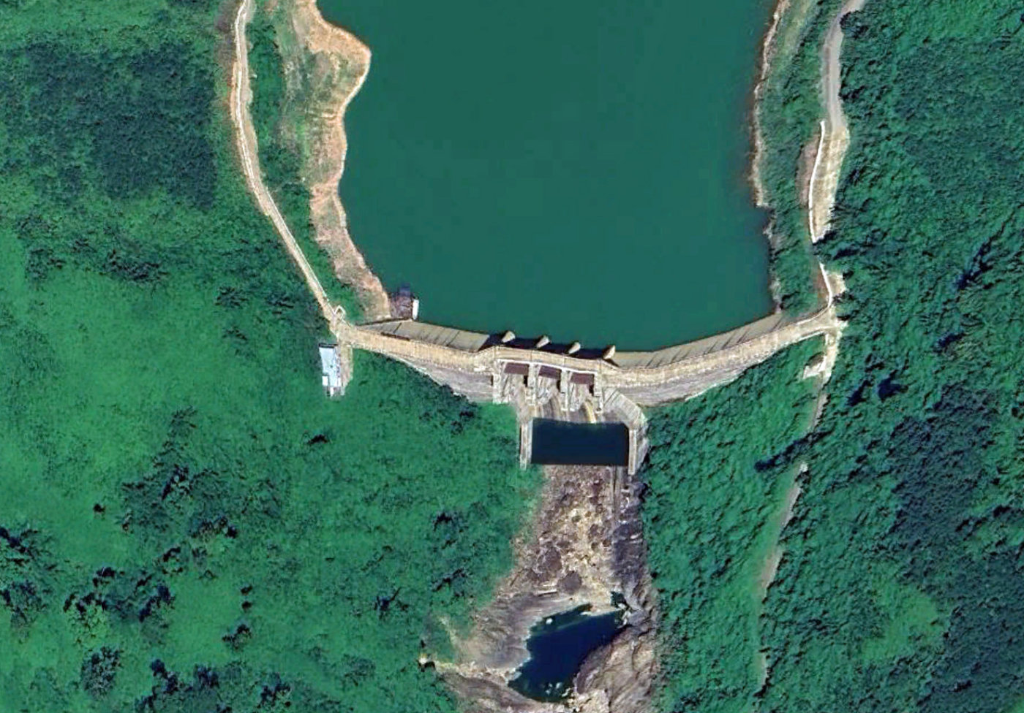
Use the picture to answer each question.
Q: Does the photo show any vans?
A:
No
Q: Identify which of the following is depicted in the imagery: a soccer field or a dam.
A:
dam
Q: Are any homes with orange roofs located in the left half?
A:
No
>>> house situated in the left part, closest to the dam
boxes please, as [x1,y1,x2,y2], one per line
[319,343,344,396]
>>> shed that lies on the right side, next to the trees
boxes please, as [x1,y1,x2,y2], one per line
[803,353,827,378]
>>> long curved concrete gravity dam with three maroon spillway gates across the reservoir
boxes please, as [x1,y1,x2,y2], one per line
[338,307,835,474]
